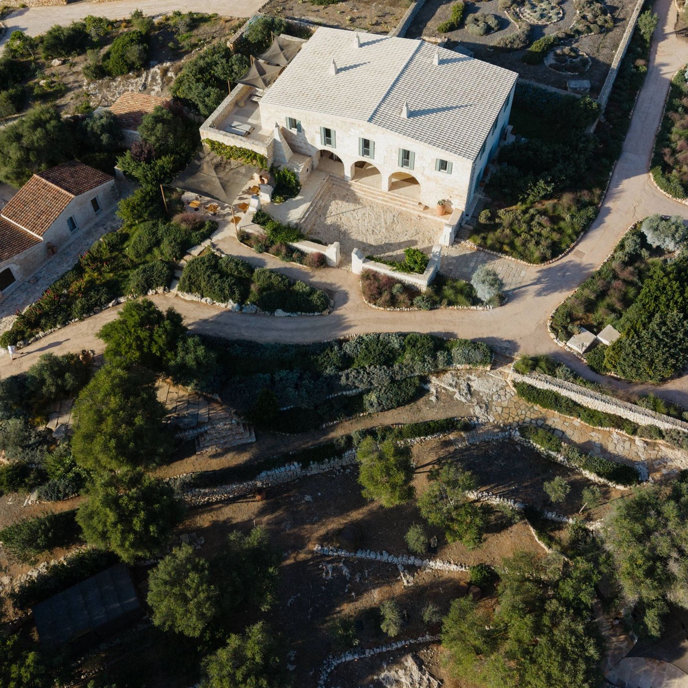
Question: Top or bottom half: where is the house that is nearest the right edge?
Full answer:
The house that is nearest the right edge is in the top half of the image.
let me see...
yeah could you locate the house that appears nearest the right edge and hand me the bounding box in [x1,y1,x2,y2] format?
[258,21,521,218]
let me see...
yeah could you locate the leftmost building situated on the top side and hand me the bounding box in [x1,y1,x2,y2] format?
[0,155,124,303]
